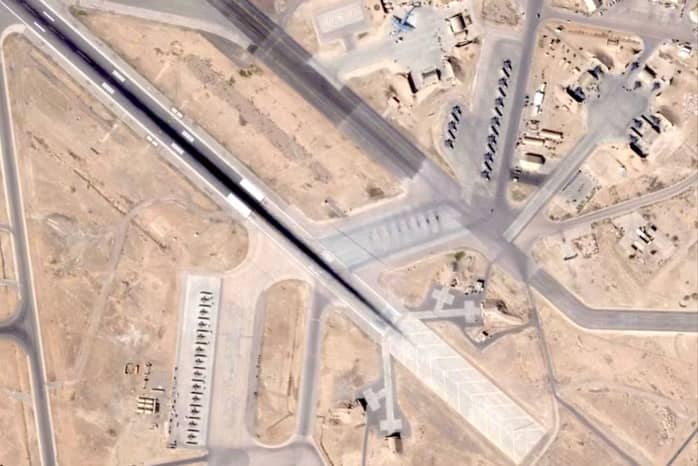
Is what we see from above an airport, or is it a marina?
airport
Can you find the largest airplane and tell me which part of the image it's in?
top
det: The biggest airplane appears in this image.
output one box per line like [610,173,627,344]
[394,11,414,31]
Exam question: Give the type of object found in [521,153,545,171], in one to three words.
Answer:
hangar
